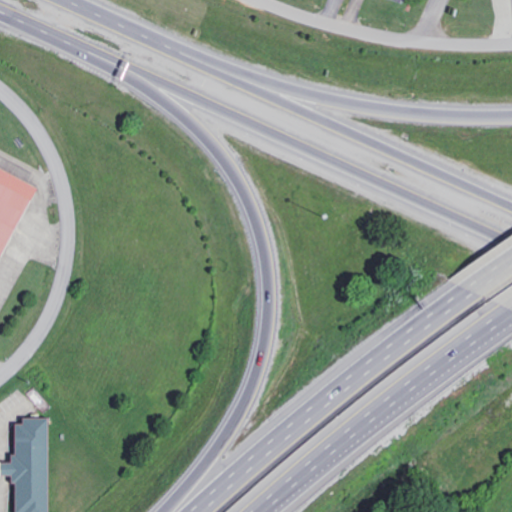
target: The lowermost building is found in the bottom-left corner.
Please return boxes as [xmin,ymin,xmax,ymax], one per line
[0,418,48,512]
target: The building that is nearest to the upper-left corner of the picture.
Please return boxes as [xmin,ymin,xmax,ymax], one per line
[0,168,37,258]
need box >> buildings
[0,168,37,258]
[0,418,48,512]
